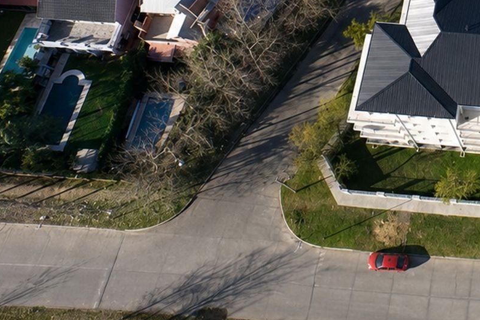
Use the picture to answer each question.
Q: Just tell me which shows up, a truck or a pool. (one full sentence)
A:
I can see a pool in this picture.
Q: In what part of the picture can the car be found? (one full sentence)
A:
You can find the car in the bottom right area of the picture.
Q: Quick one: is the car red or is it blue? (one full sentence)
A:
The car looks red in the image.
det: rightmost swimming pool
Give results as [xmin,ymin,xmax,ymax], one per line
[125,94,177,149]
